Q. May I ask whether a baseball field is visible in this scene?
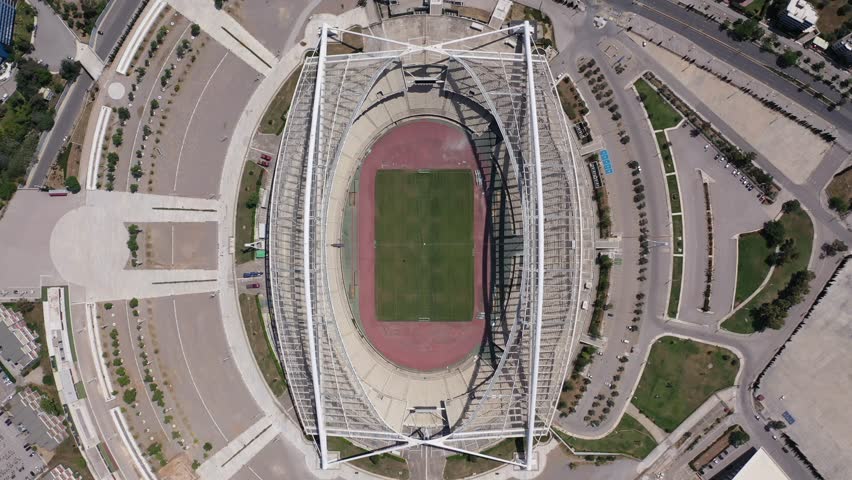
No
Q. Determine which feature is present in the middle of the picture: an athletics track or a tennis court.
athletics track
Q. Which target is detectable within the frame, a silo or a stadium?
stadium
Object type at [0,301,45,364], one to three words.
building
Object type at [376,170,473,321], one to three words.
soccer field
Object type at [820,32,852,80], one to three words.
building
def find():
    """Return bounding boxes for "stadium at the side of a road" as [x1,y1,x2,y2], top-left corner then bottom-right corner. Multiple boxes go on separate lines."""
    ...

[270,20,581,474]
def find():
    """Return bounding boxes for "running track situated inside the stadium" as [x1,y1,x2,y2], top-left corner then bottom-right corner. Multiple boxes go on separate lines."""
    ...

[358,121,490,372]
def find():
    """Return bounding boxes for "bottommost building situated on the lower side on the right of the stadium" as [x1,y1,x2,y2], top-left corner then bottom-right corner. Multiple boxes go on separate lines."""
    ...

[724,444,795,480]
